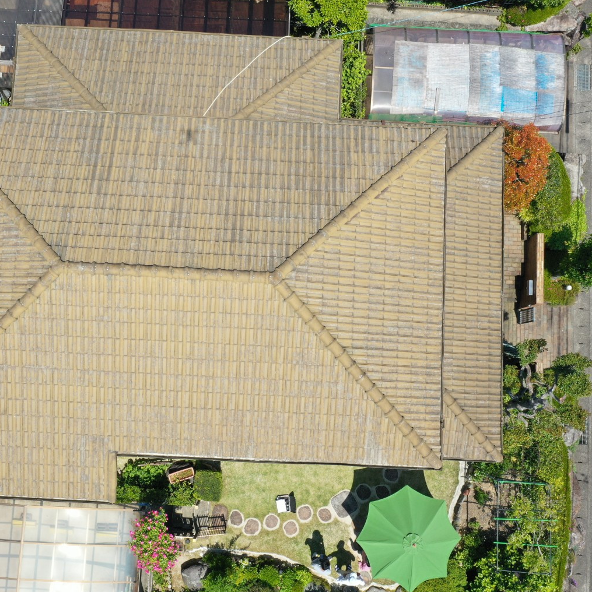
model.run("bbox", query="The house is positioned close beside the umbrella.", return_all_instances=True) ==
[0,23,508,506]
